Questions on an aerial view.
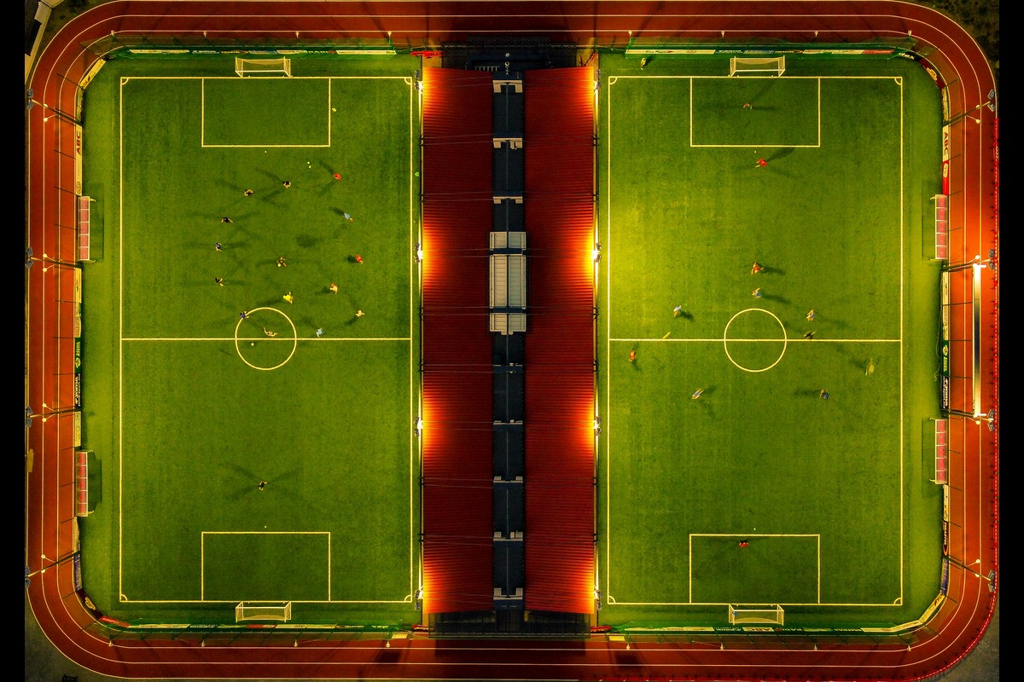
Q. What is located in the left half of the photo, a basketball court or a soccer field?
soccer field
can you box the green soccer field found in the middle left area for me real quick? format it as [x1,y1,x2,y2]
[74,47,419,632]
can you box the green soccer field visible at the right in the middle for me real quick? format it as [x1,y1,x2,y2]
[601,47,949,635]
